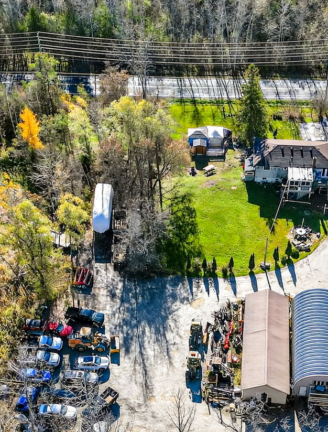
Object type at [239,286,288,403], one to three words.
barn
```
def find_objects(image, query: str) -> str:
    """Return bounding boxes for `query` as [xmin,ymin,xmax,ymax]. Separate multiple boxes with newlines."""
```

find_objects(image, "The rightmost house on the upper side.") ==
[245,141,328,194]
